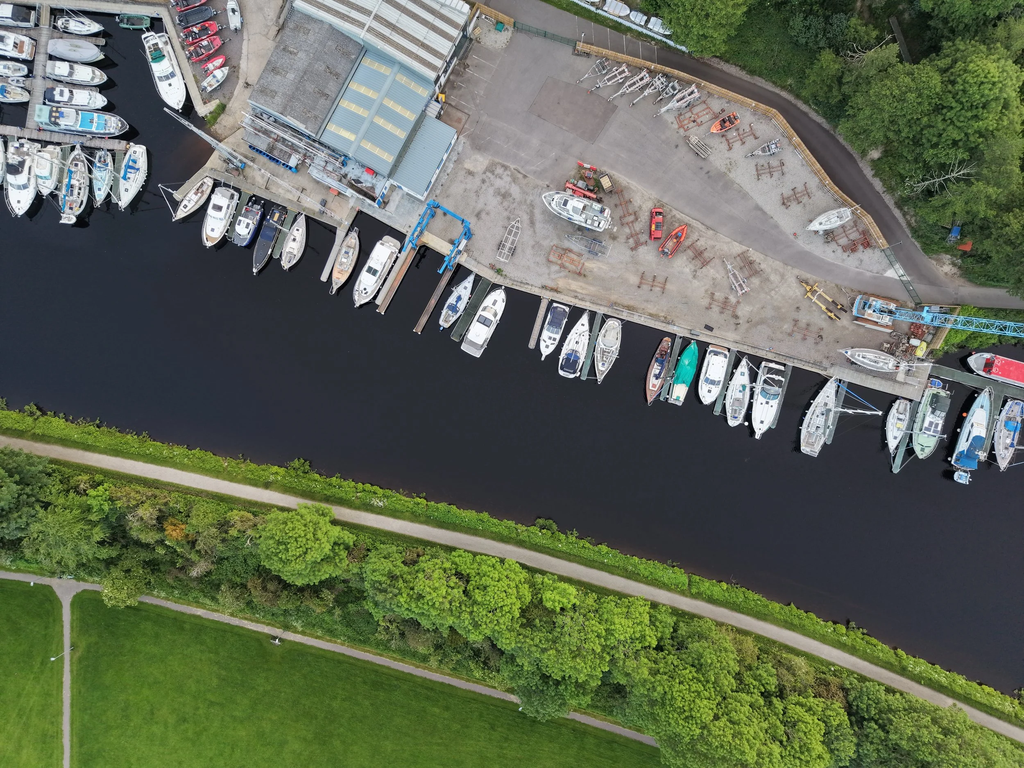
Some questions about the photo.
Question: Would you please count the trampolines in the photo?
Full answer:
There are no trampolines in this view.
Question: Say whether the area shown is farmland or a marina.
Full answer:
The area seen from above is a marina.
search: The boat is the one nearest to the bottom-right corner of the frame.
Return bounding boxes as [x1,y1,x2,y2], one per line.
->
[950,472,972,484]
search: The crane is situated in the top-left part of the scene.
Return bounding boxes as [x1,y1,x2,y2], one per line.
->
[168,106,356,234]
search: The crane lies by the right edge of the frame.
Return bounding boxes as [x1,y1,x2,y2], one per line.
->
[851,289,1024,338]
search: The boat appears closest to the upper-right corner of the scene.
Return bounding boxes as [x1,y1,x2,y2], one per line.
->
[809,204,868,232]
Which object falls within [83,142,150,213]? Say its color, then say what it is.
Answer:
white boat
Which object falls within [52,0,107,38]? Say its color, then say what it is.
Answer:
white boat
